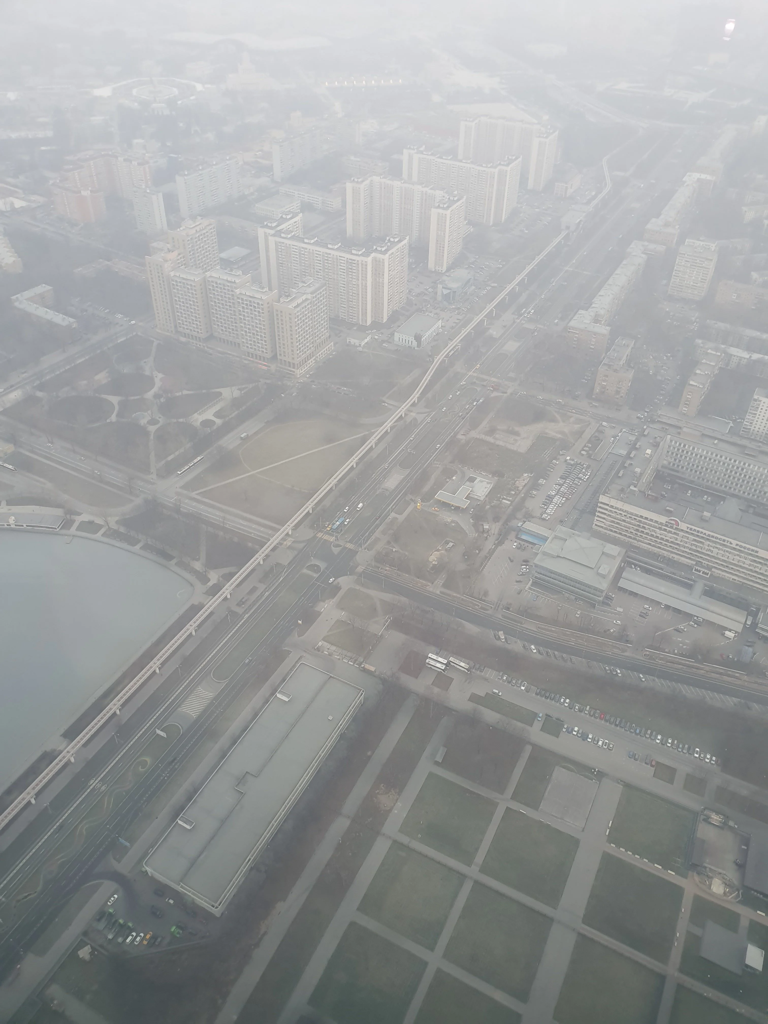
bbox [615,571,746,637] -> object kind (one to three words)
shed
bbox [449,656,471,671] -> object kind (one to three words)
vehicle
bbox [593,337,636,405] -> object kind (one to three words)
house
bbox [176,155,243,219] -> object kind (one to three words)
building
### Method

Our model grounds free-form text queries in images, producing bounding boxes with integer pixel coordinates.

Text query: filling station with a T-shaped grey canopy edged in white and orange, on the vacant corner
[434,475,493,510]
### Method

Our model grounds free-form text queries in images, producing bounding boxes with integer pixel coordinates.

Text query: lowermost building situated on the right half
[744,944,764,973]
